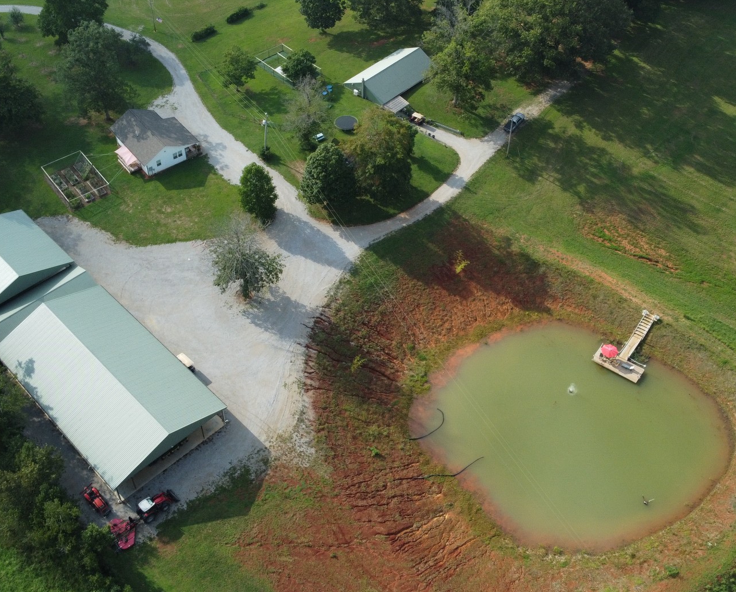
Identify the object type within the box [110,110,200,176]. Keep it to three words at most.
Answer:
house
